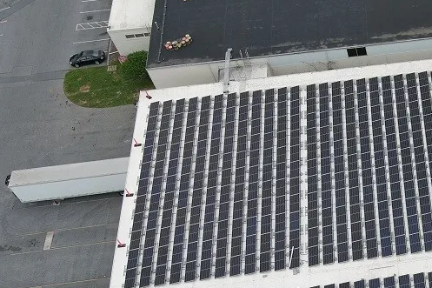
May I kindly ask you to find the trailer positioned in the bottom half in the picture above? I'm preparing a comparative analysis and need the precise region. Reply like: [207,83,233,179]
[3,156,129,205]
